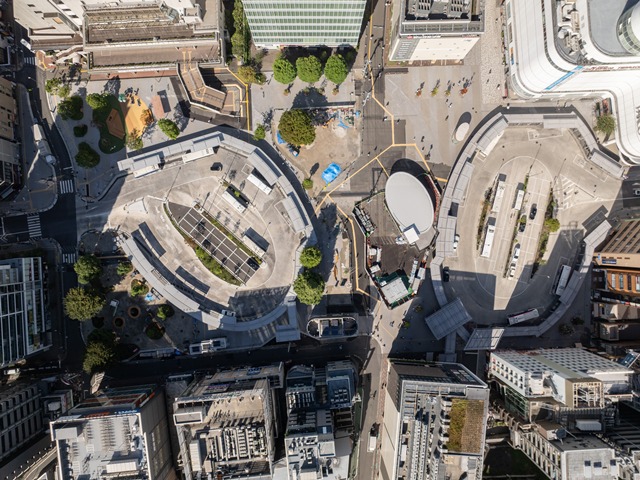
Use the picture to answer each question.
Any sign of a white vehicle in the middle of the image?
Yes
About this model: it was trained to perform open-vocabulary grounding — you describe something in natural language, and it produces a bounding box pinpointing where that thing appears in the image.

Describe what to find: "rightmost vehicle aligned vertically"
[552,263,569,295]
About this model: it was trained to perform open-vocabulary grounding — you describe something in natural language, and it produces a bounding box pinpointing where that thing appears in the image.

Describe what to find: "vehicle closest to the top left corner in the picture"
[17,36,34,53]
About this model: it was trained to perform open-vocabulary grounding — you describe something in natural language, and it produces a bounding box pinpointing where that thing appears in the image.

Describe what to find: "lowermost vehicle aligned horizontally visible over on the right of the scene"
[505,308,538,323]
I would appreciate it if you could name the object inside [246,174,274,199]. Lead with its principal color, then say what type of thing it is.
white bus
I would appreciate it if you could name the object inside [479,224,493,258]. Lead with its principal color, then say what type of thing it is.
white vehicle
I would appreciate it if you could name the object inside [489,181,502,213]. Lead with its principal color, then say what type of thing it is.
white vehicle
